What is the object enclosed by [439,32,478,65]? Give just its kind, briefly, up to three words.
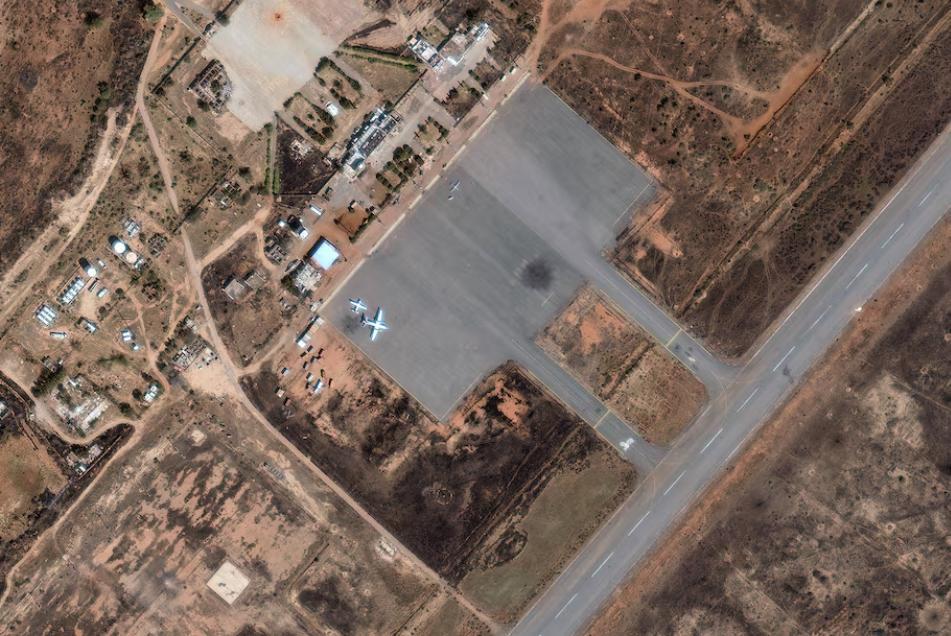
building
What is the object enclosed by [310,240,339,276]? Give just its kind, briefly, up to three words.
hangar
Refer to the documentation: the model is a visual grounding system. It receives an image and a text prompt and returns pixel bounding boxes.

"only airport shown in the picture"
[317,74,951,636]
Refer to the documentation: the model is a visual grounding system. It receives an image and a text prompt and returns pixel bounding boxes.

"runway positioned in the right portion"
[508,134,951,636]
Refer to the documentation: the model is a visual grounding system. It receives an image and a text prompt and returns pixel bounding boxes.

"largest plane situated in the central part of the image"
[362,310,388,339]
